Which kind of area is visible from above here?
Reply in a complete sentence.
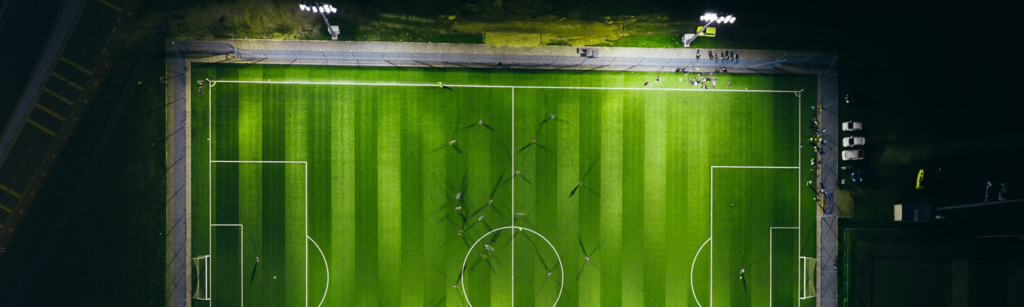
What you see here is a sports ground.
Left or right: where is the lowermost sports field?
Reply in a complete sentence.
The lowermost sports field appears in the right half of the scene.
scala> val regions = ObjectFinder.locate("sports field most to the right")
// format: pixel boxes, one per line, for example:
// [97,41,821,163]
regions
[845,229,1024,307]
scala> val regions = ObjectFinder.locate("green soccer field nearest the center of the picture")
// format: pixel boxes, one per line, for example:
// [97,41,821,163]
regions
[190,61,817,307]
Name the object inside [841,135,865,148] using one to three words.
vehicle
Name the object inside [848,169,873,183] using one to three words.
car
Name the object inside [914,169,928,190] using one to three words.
car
